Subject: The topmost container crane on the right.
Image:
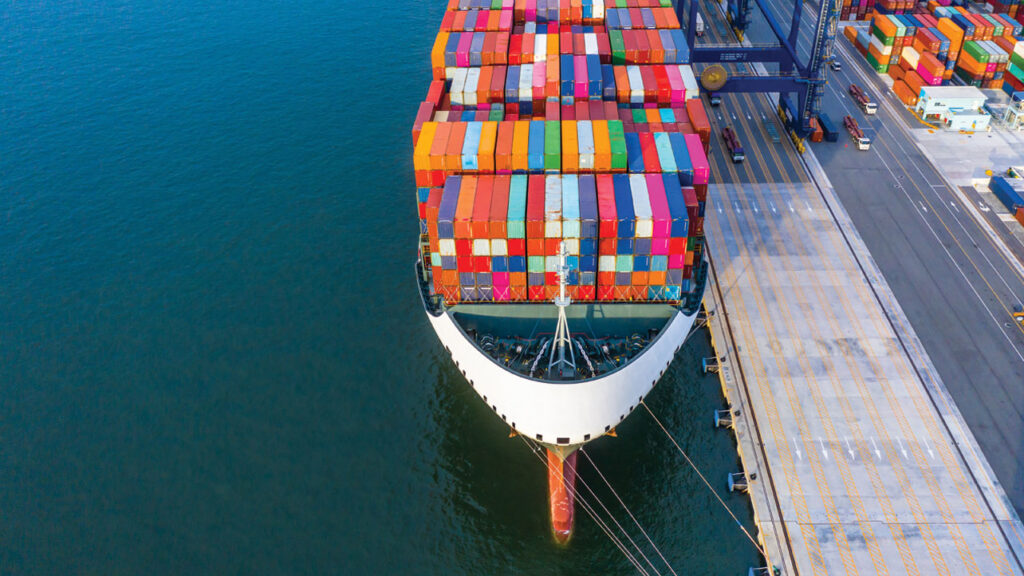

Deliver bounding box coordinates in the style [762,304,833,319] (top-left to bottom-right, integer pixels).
[727,0,758,39]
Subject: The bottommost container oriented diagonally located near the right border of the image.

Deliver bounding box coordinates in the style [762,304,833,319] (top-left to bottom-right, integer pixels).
[987,177,1024,216]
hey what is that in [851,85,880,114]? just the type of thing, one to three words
truck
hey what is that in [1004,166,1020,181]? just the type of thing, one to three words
work vehicle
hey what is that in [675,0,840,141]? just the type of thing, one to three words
container crane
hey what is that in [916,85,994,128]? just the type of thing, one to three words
building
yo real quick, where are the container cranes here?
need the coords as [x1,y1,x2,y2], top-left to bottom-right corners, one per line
[675,0,840,141]
[727,0,758,39]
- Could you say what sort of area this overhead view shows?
port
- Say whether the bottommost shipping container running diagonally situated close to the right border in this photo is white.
No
